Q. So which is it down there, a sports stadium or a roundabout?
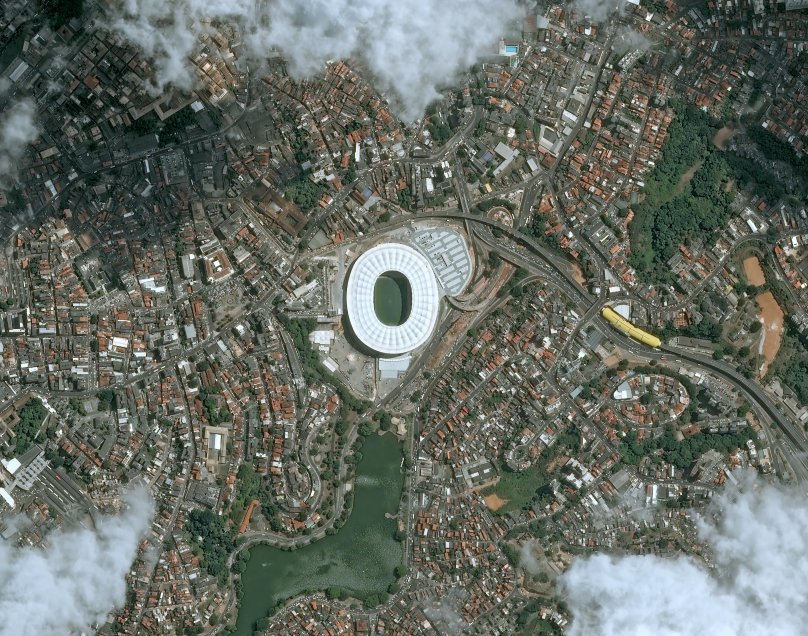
sports stadium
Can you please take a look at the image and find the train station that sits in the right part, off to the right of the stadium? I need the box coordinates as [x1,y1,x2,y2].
[600,307,661,349]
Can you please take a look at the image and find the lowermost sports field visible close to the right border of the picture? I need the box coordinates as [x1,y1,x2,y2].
[758,291,785,378]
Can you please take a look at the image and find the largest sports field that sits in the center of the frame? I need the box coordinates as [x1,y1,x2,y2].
[373,271,412,327]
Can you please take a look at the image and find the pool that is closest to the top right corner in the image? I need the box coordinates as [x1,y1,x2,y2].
[499,39,519,55]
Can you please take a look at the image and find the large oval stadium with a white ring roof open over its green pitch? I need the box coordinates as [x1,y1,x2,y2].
[343,243,440,356]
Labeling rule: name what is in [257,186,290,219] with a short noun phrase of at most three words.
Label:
building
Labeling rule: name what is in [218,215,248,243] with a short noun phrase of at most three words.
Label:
building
